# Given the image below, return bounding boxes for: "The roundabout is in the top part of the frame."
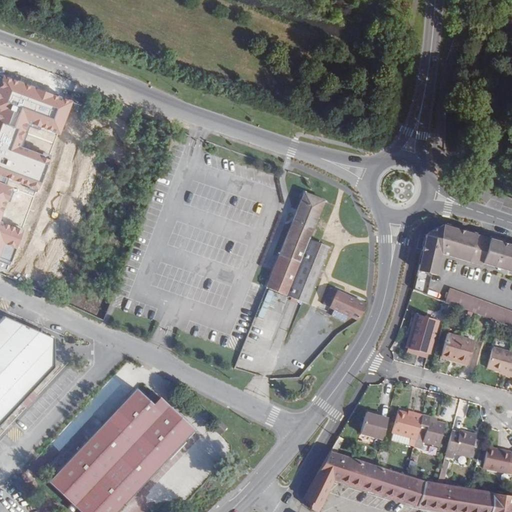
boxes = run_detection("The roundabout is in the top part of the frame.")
[360,148,439,226]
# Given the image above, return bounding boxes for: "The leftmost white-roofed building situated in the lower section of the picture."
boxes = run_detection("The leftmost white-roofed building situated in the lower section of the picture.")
[0,318,54,423]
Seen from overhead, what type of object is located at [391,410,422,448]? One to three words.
house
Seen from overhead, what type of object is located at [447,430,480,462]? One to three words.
house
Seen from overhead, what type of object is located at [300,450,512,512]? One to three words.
building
